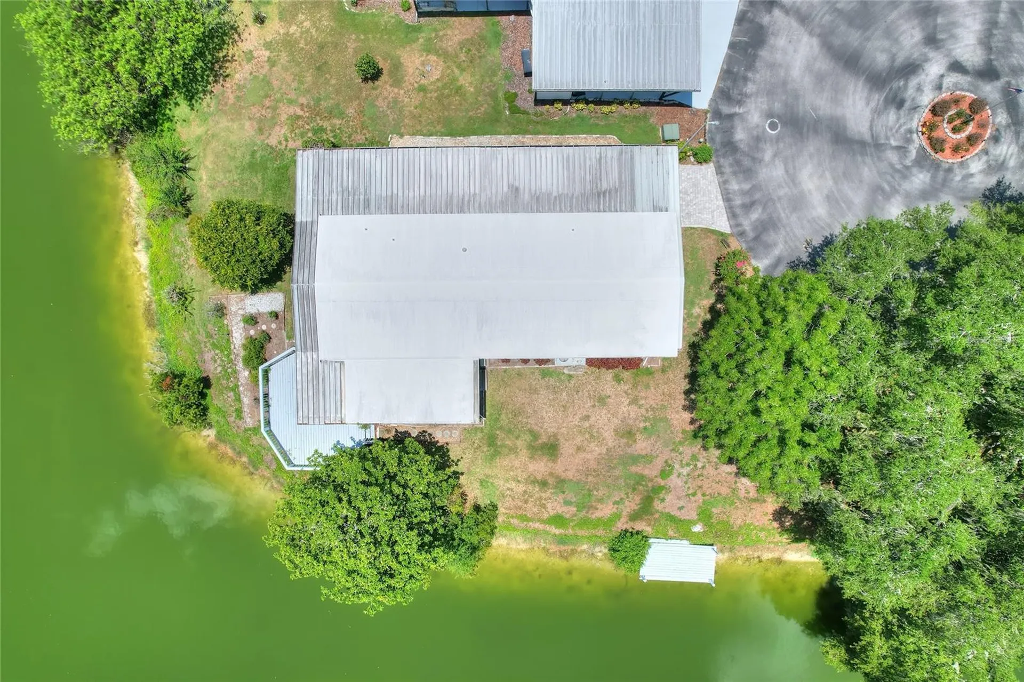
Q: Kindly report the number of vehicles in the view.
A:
0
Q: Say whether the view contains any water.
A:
Yes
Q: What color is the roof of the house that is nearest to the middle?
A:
white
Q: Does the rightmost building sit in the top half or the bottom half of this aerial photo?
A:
top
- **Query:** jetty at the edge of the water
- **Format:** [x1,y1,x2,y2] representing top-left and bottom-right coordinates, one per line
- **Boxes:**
[639,538,718,587]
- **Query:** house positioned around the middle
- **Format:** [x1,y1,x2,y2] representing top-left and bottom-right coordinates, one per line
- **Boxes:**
[291,144,685,428]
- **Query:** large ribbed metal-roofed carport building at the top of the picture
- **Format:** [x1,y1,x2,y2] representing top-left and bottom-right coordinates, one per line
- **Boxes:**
[532,0,706,104]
